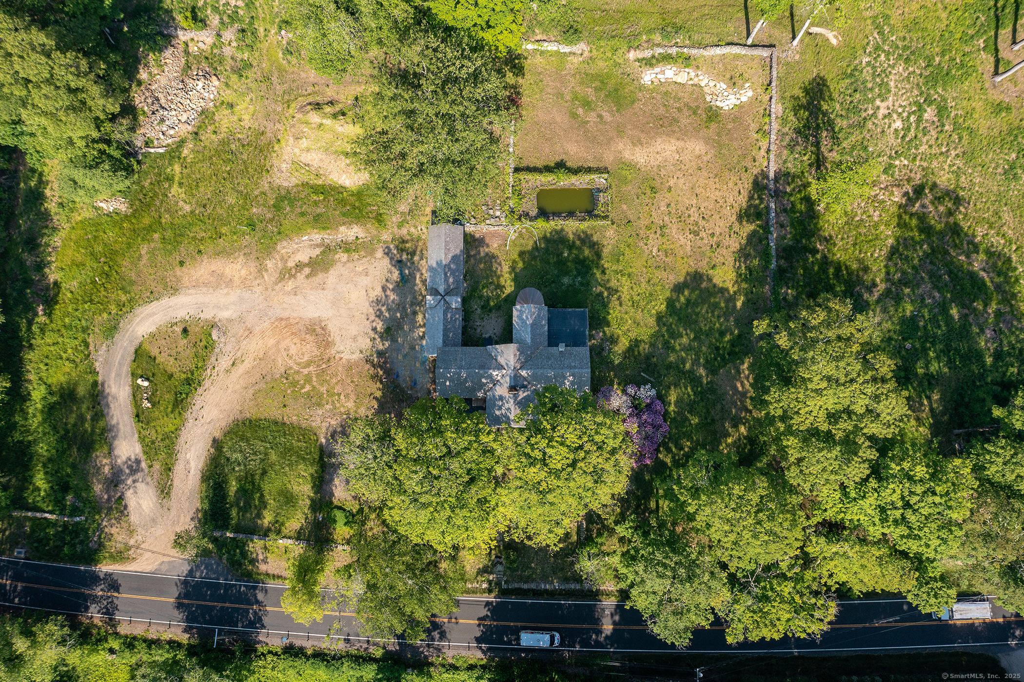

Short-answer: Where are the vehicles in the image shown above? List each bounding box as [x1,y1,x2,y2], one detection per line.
[520,631,561,650]
[930,601,993,624]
